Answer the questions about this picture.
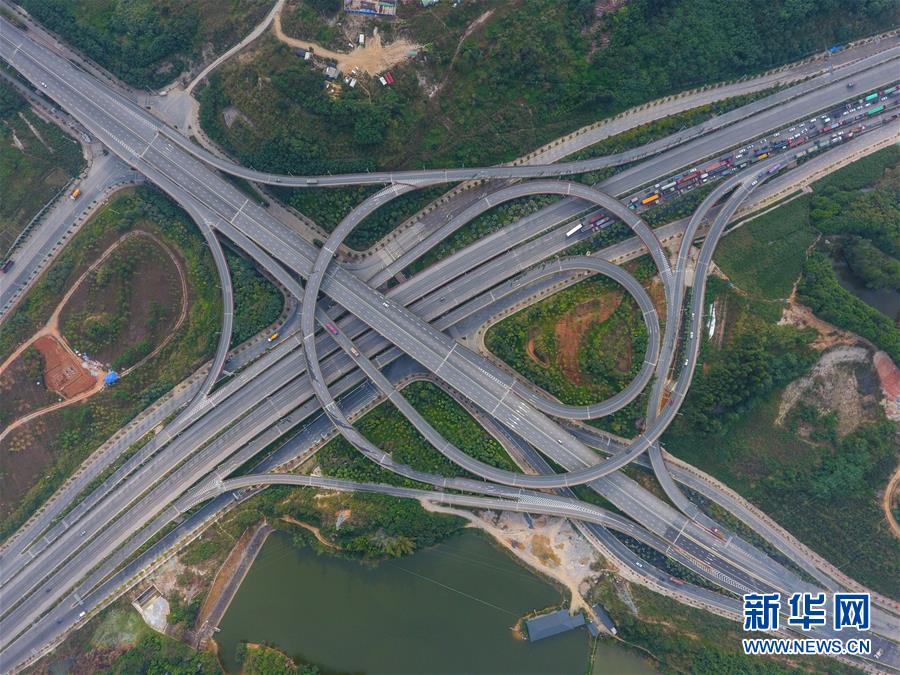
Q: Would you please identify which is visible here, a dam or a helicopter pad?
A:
dam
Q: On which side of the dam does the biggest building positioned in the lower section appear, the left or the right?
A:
on its right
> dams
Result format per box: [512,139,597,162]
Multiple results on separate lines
[195,520,274,642]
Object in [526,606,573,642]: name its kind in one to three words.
building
